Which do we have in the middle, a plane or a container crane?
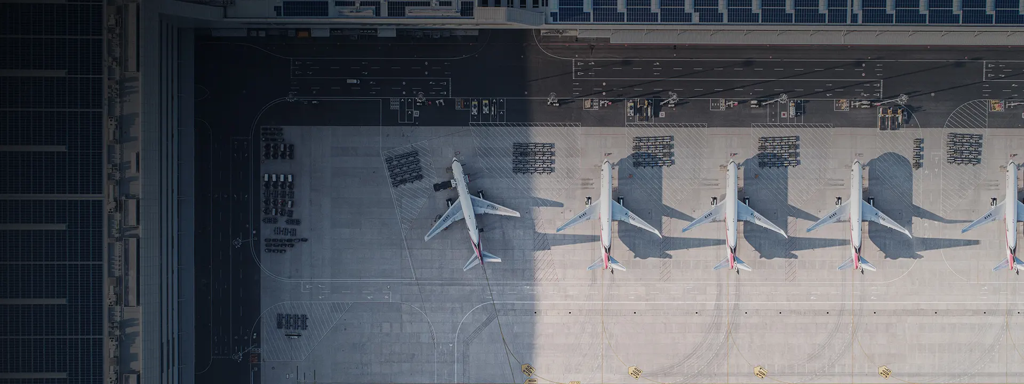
plane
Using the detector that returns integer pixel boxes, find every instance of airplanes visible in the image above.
[964,161,1024,272]
[554,159,663,272]
[423,158,521,271]
[682,160,791,273]
[807,160,917,274]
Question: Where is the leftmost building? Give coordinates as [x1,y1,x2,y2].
[0,0,195,384]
